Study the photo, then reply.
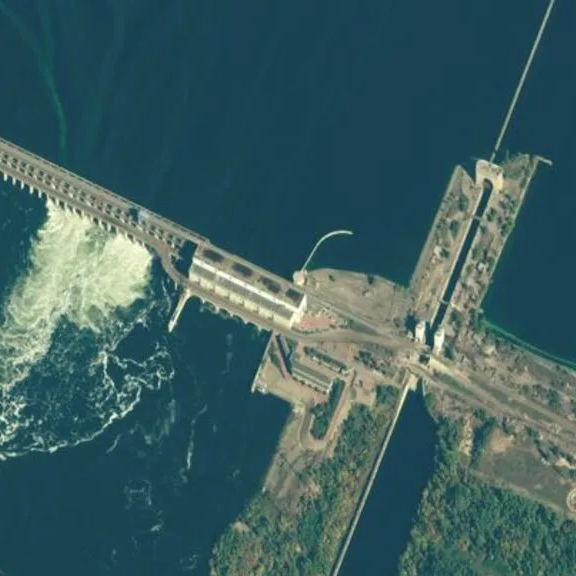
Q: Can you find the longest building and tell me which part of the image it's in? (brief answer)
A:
center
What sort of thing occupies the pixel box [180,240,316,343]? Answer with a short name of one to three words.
building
